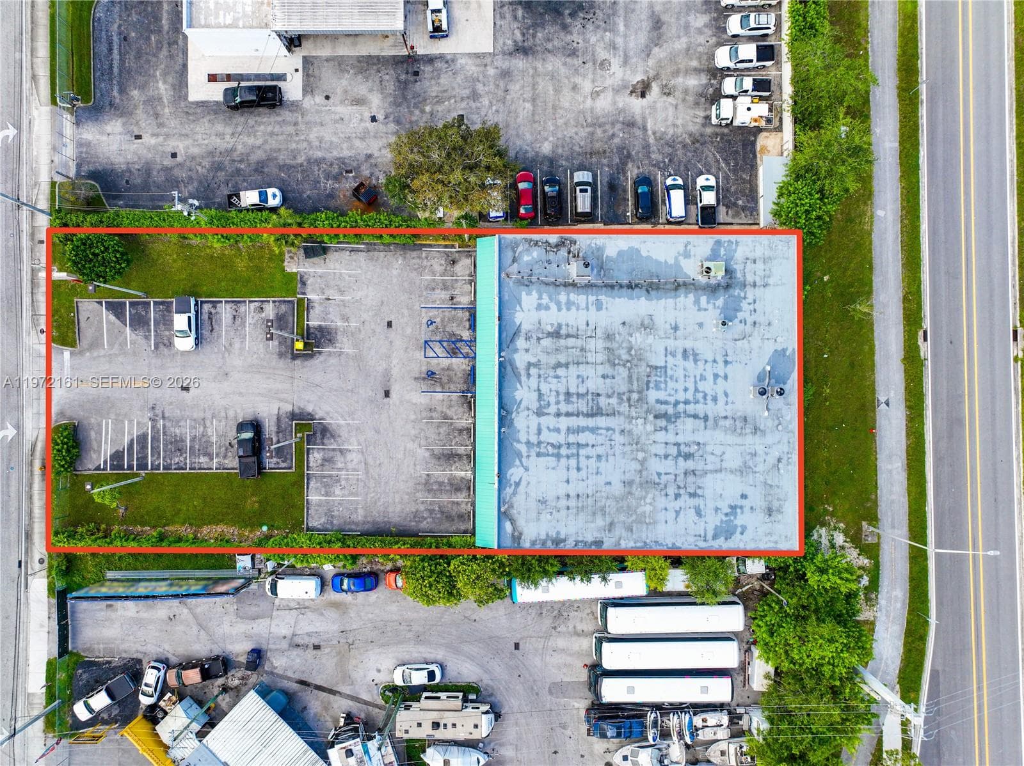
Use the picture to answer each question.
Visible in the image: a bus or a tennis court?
bus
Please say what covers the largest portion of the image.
paved ground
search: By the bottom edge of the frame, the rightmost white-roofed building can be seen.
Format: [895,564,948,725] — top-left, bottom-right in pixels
[197,674,344,766]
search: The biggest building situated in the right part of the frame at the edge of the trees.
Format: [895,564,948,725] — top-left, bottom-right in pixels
[476,231,800,552]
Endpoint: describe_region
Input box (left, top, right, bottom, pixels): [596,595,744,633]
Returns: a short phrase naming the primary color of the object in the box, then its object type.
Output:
white bus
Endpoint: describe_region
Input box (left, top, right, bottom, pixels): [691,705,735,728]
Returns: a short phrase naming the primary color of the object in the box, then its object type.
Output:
white boat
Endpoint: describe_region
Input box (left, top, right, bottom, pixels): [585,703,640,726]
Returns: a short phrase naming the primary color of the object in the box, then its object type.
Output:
black car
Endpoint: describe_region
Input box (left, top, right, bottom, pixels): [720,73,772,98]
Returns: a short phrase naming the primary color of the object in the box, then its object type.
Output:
white truck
